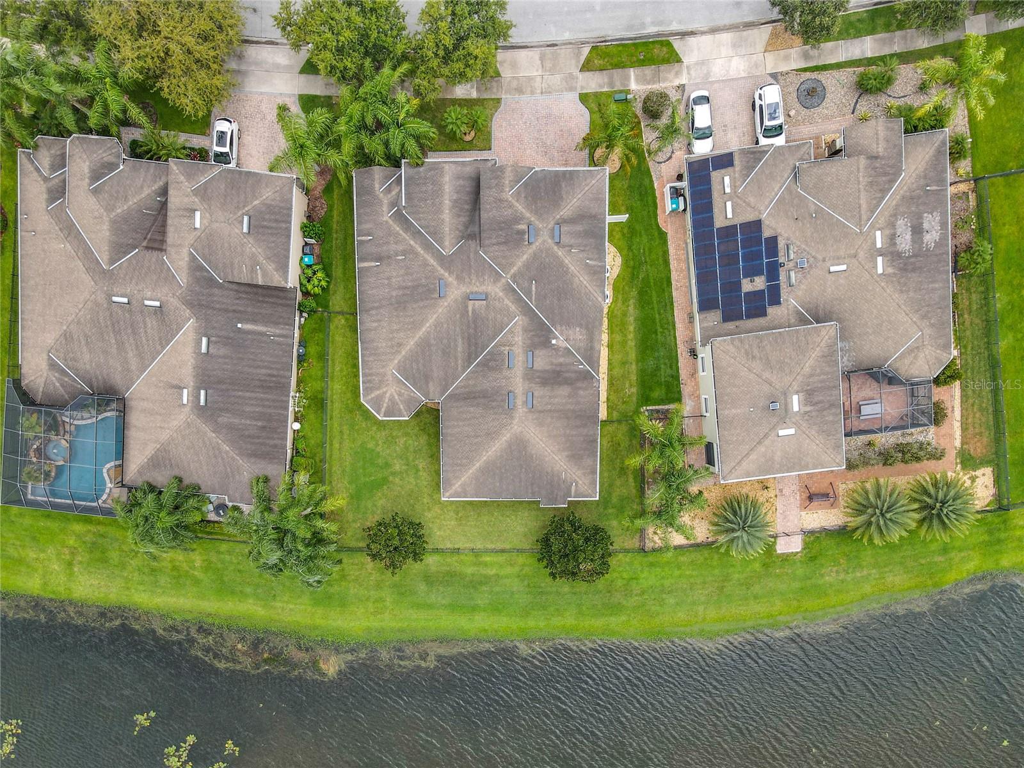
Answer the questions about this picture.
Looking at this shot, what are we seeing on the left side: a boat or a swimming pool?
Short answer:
swimming pool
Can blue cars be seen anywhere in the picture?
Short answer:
No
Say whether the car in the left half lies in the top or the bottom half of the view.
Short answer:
top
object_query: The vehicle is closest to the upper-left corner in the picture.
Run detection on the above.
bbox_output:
[206,113,243,169]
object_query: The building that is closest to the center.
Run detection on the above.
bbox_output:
[352,157,608,507]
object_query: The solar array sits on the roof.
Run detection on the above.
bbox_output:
[688,152,781,322]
